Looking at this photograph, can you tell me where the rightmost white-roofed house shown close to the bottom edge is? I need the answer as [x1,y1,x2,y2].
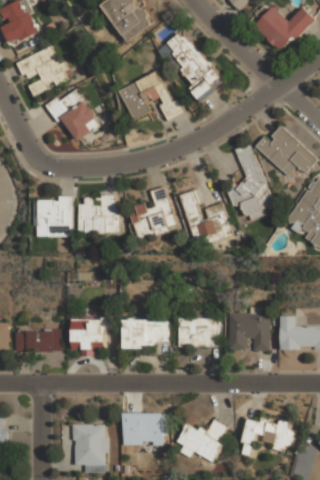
[241,418,294,456]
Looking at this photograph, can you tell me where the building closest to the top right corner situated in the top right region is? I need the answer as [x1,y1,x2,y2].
[258,8,314,50]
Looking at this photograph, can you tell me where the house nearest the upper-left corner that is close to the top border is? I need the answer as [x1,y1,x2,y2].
[1,1,38,42]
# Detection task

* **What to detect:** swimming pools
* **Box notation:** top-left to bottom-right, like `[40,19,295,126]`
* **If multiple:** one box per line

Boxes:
[270,232,288,252]
[156,26,178,42]
[290,0,302,9]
